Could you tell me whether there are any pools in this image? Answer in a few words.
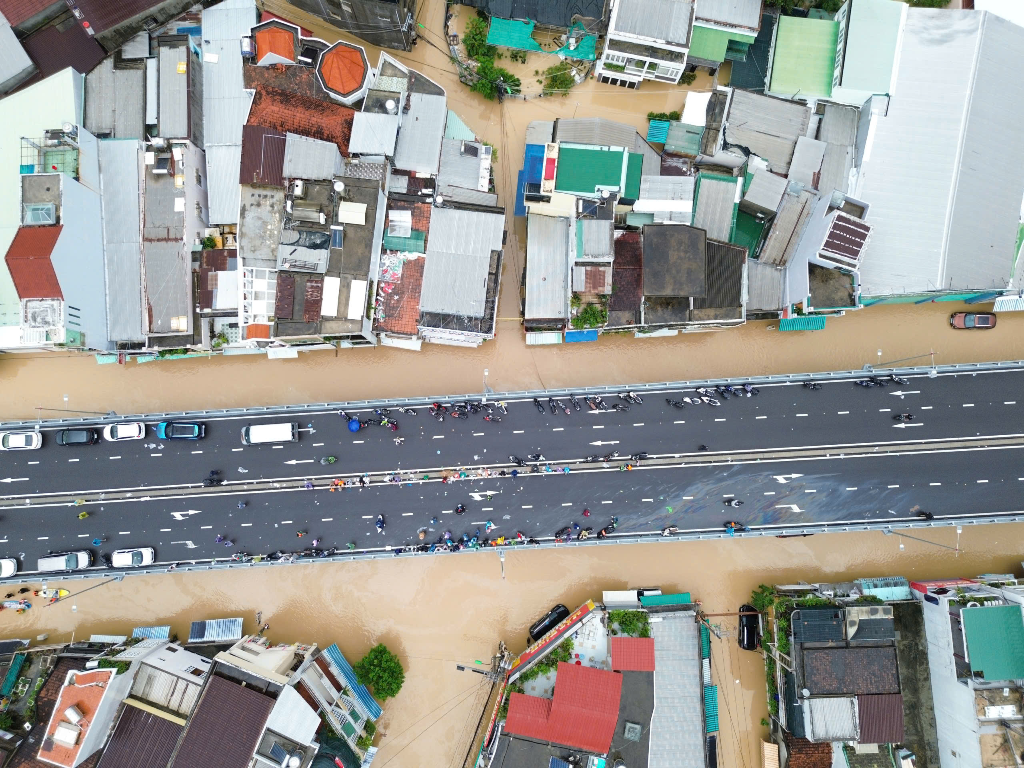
No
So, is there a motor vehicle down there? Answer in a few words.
Yes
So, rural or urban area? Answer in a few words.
urban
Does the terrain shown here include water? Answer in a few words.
Yes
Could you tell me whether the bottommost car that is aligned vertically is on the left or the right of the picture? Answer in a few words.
right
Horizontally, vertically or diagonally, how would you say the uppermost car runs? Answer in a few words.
horizontally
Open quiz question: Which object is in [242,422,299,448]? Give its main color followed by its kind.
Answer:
white vehicle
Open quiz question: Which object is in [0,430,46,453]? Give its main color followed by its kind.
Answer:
white car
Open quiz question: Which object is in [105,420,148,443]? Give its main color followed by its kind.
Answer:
white car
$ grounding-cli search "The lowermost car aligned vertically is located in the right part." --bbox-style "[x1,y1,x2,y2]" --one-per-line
[737,604,759,649]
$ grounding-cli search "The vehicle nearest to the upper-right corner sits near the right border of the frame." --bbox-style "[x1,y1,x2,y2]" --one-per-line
[950,309,997,332]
